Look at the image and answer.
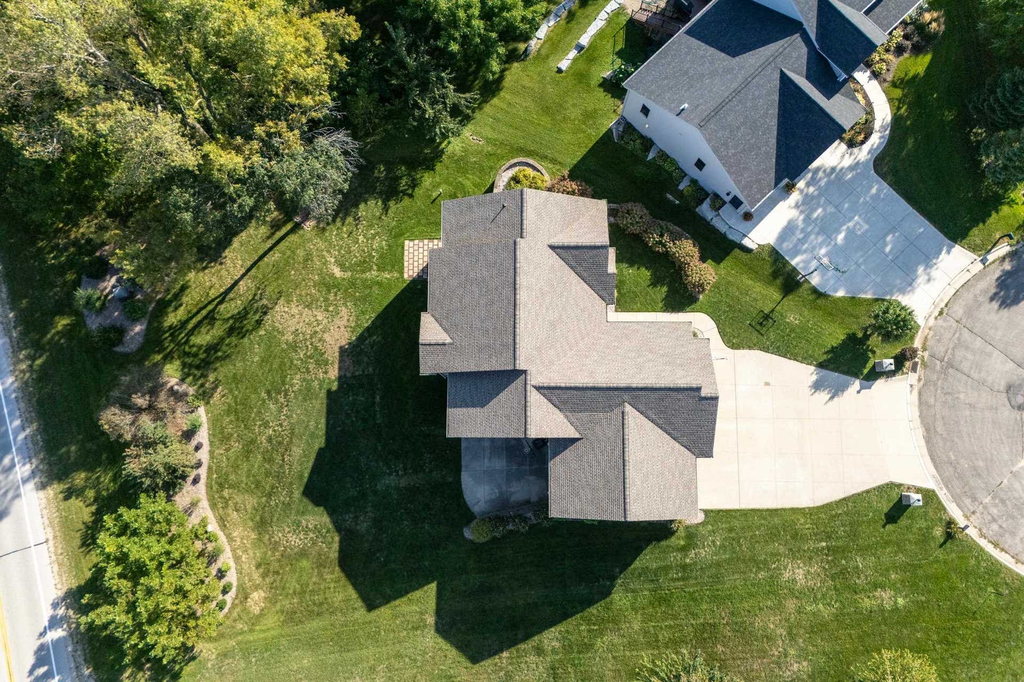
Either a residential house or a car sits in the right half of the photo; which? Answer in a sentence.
What appears in the right half of the photo is a residential house.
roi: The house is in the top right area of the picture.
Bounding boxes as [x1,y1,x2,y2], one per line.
[622,0,926,218]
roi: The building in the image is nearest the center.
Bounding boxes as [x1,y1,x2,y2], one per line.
[417,187,719,520]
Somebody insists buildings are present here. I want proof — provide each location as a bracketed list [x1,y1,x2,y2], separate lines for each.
[622,0,926,218]
[417,187,719,520]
